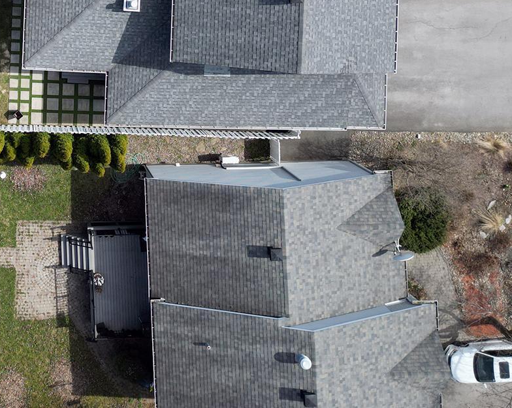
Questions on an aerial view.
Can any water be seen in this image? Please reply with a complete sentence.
No, there's no water in this view.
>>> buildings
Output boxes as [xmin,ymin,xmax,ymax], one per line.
[20,0,403,133]
[141,163,453,408]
